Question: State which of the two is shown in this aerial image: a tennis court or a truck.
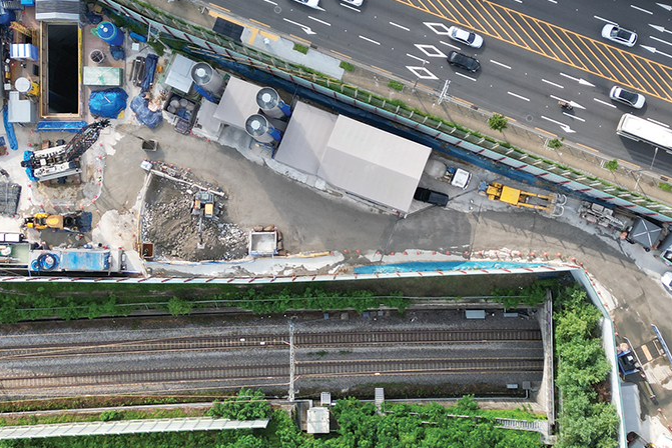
truck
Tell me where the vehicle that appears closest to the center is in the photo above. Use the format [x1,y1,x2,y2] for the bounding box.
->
[410,184,454,210]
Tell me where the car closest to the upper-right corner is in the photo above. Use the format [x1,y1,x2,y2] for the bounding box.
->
[598,22,639,47]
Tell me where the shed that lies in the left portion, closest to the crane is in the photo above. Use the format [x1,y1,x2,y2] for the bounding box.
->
[9,101,42,124]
